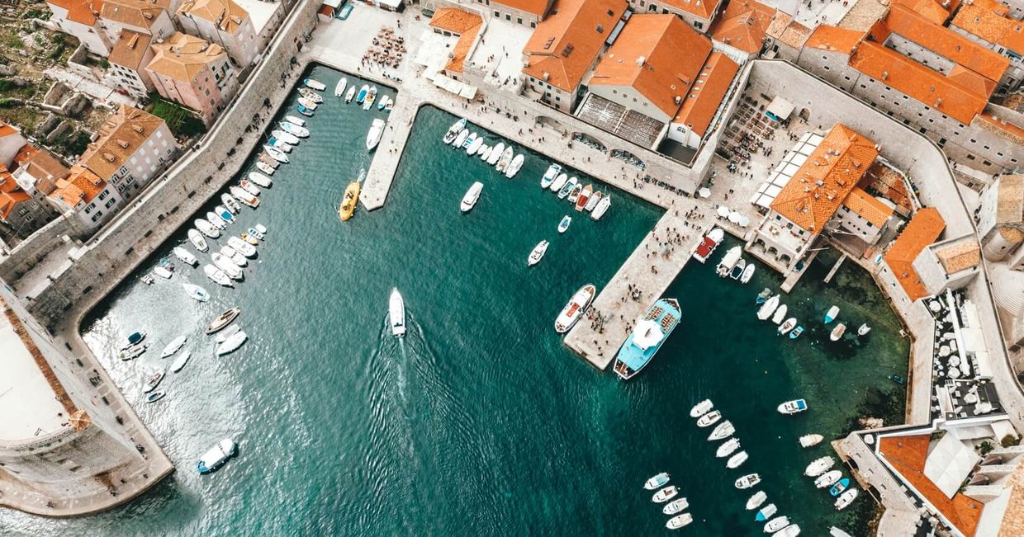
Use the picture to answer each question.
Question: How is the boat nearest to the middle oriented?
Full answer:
Seen from above, the boat nearest to the middle lies diagonally.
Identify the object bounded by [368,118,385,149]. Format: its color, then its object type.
white boat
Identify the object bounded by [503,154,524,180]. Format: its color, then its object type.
white boat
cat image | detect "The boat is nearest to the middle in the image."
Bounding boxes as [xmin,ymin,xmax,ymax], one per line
[528,239,550,266]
